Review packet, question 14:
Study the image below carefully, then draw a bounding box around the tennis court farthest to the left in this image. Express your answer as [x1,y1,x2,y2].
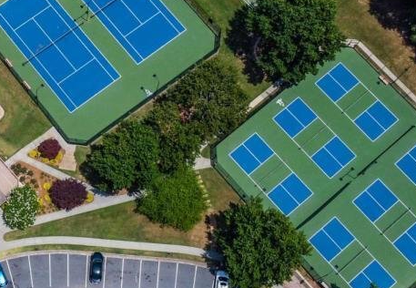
[0,0,122,113]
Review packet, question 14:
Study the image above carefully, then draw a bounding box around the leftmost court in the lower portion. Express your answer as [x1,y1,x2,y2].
[229,132,314,214]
